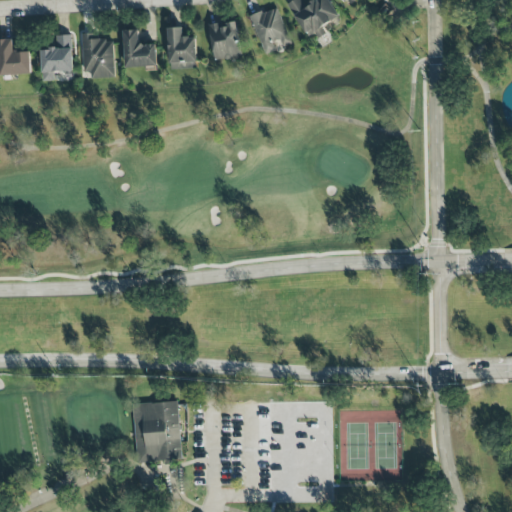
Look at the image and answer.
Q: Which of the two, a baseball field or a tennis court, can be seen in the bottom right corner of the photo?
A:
tennis court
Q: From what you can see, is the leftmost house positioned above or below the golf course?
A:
above it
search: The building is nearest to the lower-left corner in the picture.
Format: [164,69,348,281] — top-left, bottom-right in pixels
[132,402,182,463]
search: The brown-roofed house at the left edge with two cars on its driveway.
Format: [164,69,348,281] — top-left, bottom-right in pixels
[0,38,30,80]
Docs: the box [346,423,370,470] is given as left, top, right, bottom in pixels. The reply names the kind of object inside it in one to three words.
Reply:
tennis court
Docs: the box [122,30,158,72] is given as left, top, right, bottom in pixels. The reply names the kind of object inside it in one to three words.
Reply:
house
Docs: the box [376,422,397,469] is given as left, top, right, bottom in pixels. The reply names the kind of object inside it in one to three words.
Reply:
tennis court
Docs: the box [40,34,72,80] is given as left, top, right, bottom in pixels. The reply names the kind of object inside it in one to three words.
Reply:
house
